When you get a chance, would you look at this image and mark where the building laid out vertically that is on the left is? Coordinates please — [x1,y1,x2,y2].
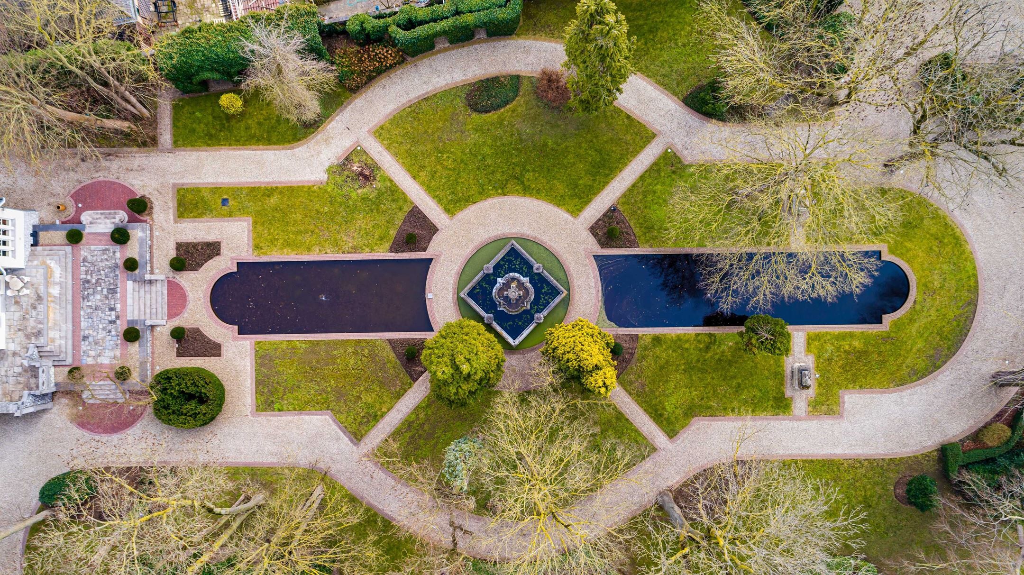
[0,196,37,276]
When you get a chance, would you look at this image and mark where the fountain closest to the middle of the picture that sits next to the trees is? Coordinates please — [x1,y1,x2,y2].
[460,240,567,347]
